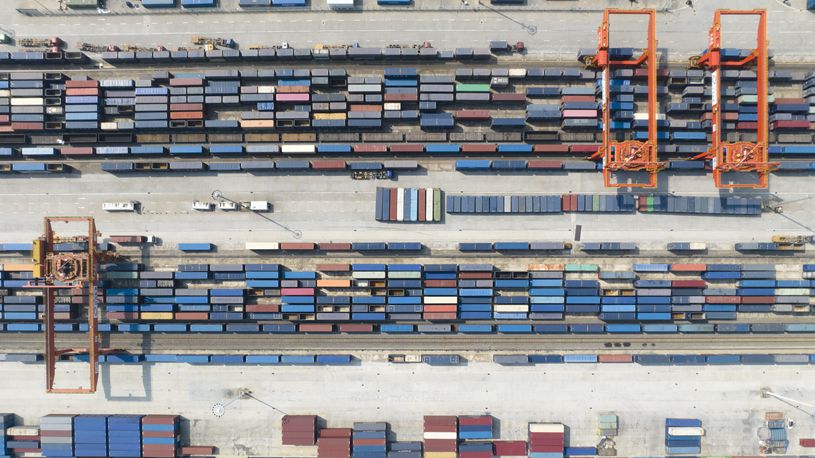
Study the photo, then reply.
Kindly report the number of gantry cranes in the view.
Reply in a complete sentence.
In total, 3 gantry cranes can be seen.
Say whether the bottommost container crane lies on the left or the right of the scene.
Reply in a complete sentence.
The bottommost container crane sits on the left side.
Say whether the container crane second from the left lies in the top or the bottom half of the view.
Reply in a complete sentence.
The container crane second from the left is in the top half of the image.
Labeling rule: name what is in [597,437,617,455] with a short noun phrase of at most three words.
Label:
vehicle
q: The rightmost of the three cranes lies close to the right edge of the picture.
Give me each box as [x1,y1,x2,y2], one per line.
[684,9,779,189]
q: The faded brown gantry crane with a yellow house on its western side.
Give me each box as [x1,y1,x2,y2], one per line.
[22,217,121,393]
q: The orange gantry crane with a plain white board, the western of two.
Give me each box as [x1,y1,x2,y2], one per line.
[580,7,668,188]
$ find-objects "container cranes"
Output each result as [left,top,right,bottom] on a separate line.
[580,7,668,188]
[22,217,121,393]
[684,9,779,189]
